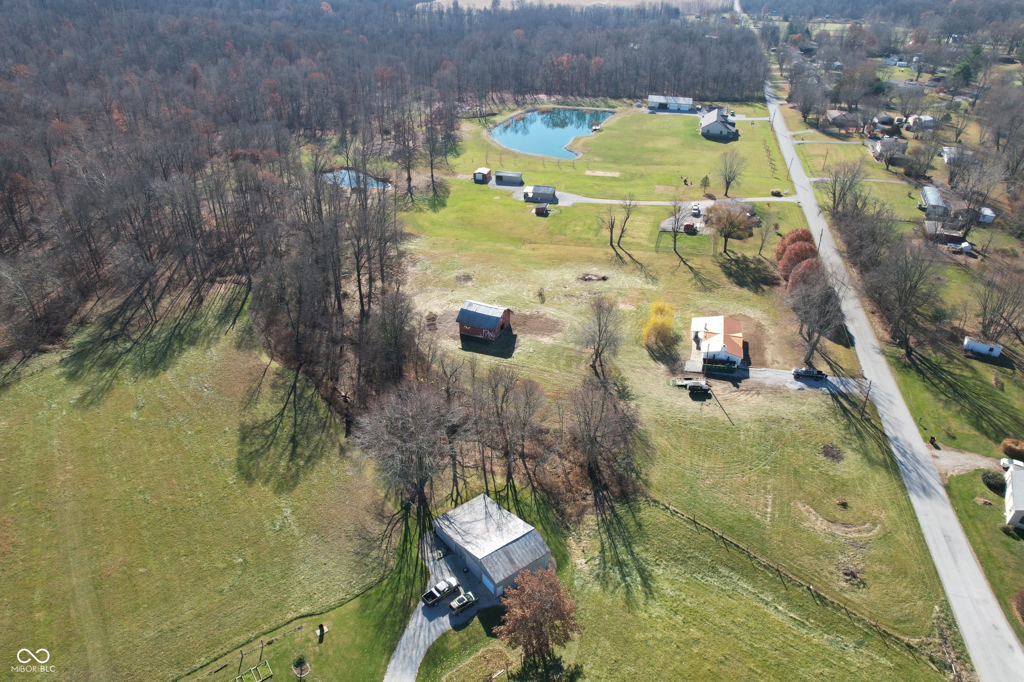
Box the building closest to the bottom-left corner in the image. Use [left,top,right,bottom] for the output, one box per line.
[436,490,555,599]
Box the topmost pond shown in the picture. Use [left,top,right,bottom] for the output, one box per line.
[491,109,615,159]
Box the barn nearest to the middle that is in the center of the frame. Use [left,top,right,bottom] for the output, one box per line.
[455,300,512,341]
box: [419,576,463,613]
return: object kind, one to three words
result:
truck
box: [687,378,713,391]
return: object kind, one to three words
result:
vehicle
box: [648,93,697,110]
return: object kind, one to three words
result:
building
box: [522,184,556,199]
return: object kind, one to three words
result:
shed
